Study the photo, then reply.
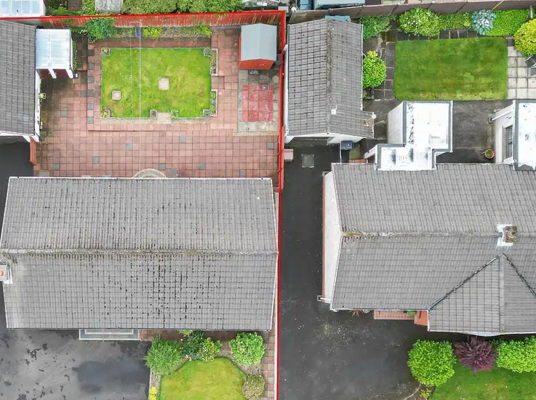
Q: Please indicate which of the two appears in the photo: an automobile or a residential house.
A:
residential house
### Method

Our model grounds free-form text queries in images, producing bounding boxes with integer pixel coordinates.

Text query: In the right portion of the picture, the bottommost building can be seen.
[317,162,536,336]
